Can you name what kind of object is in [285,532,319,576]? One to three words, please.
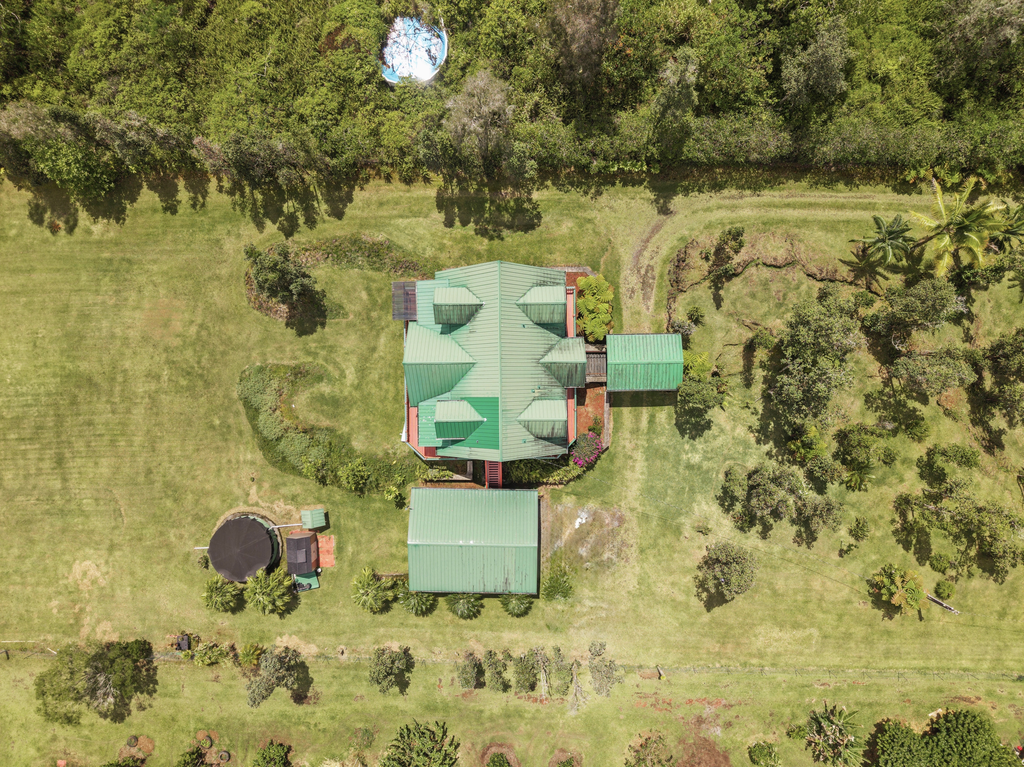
shed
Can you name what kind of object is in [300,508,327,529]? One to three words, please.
shed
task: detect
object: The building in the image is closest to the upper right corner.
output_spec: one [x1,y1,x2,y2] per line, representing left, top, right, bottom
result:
[605,333,684,392]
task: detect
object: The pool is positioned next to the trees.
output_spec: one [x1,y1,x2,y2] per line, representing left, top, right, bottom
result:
[382,15,449,91]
